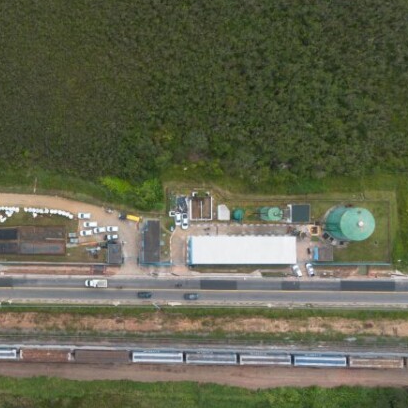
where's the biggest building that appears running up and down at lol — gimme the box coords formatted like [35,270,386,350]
[140,219,160,263]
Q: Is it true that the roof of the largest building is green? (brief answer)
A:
No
